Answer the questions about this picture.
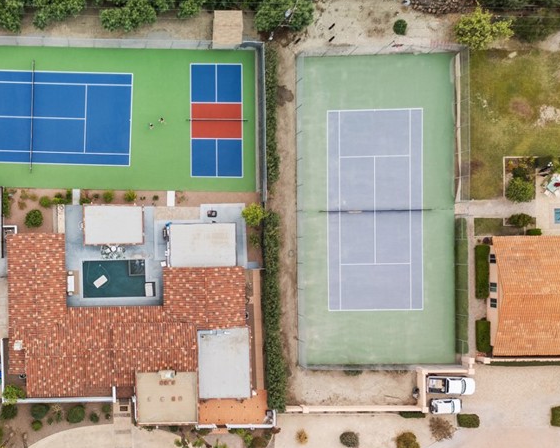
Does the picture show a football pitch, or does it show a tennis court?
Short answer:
tennis court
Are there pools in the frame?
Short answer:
Yes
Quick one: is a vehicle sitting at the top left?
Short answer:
No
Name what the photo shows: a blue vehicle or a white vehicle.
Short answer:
white vehicle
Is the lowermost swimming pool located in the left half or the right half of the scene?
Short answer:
left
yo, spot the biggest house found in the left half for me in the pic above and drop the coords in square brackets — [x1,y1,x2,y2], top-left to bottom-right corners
[7,224,252,424]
